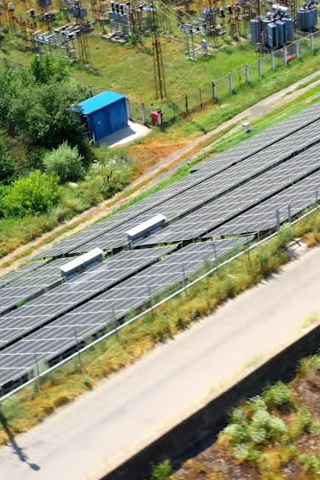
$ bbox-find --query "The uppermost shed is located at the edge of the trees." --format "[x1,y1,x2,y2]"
[73,92,129,142]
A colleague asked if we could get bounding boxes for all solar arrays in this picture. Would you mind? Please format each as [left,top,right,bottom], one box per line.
[67,115,320,255]
[196,166,320,242]
[0,257,73,311]
[0,246,172,346]
[129,139,320,249]
[0,260,46,286]
[0,237,247,387]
